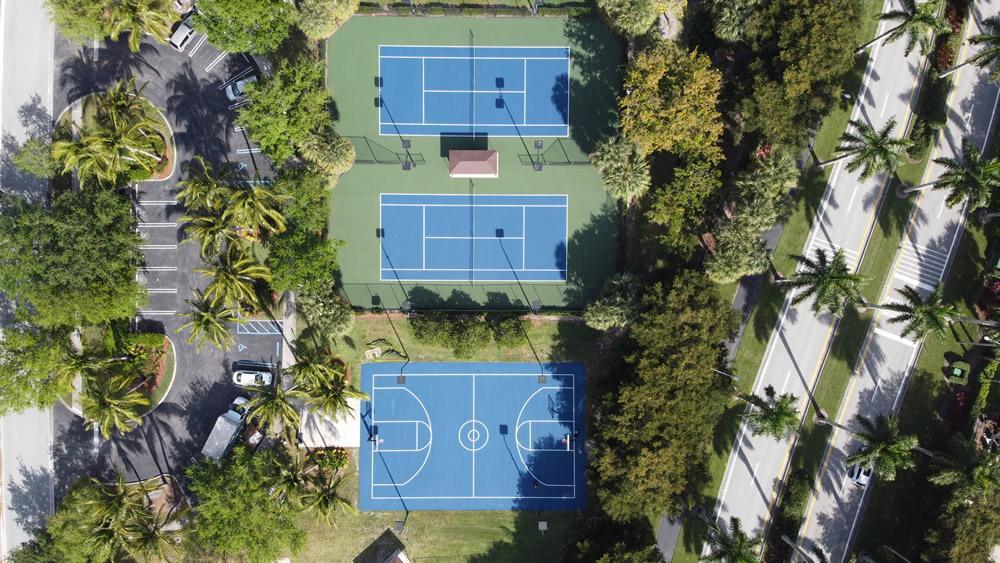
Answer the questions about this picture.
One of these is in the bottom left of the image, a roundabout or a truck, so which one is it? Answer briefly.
truck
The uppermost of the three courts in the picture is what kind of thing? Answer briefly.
tennis court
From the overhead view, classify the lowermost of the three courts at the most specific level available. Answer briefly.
basketball court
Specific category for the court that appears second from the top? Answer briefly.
tennis court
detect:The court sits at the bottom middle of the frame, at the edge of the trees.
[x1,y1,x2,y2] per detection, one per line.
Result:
[359,362,586,510]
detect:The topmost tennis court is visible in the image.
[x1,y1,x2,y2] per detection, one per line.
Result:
[379,46,569,137]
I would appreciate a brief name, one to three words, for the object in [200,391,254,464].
truck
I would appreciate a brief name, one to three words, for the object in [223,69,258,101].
car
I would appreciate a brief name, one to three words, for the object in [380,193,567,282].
tennis court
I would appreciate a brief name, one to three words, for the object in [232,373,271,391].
car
